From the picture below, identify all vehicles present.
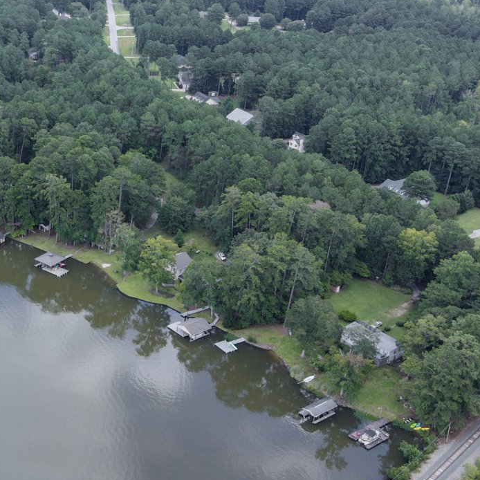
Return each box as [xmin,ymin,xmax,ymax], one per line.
[373,321,386,331]
[217,252,228,261]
